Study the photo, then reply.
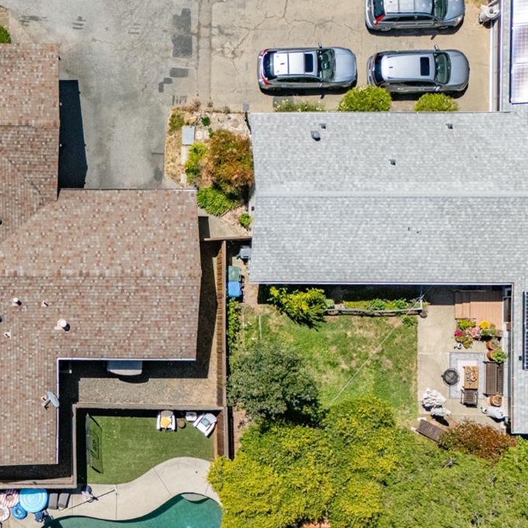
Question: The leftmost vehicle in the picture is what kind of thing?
automobile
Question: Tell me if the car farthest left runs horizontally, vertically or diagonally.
horizontally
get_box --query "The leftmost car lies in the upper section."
[256,42,358,91]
